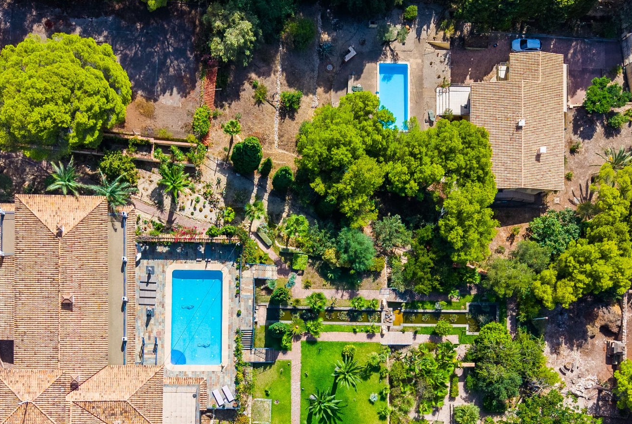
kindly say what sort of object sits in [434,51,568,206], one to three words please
house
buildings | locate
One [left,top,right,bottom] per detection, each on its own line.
[434,51,568,206]
[0,193,207,424]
